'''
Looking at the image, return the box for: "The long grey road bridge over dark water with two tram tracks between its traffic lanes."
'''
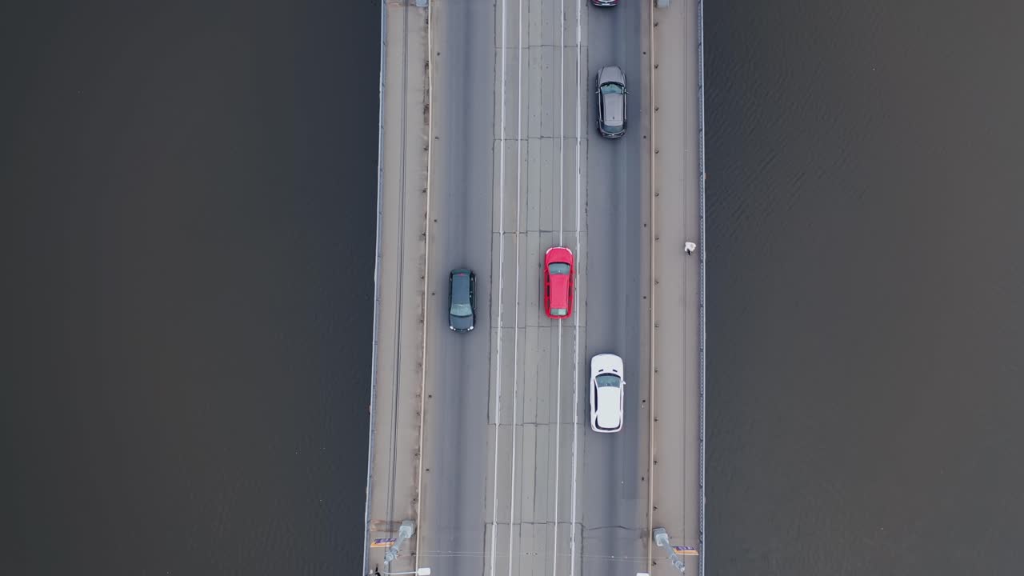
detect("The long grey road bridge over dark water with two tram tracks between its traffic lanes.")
[364,0,703,576]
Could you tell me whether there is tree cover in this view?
No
